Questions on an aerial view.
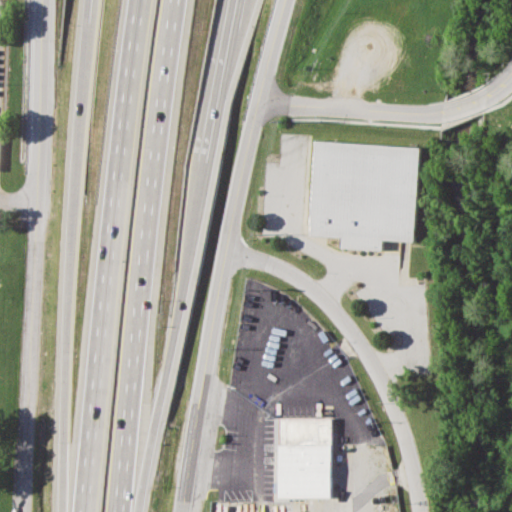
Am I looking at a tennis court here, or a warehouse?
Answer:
warehouse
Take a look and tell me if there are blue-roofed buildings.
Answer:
No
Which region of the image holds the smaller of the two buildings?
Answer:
bottom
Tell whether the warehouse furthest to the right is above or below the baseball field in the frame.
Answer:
below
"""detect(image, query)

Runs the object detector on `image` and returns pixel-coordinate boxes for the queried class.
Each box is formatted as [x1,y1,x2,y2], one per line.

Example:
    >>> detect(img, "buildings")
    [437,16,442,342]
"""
[277,418,332,500]
[310,141,420,252]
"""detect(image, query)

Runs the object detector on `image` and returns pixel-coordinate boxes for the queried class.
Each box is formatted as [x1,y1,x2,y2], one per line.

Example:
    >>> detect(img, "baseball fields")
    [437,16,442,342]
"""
[286,0,448,104]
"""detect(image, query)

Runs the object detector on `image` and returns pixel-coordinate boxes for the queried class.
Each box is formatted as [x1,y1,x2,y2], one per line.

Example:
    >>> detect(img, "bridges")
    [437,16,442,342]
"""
[442,62,512,130]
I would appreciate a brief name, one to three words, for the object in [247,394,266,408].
vehicle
